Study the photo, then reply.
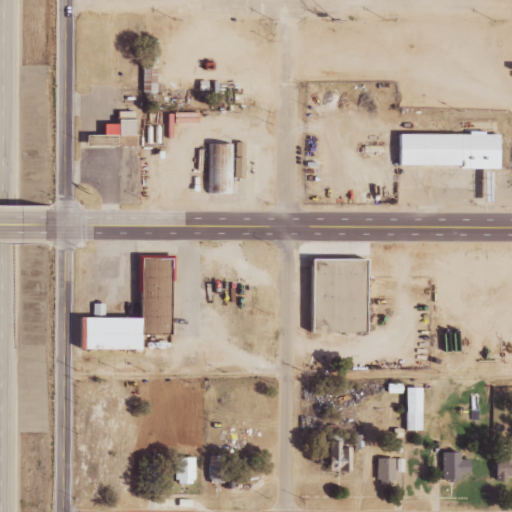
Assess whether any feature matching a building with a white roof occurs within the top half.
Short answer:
Yes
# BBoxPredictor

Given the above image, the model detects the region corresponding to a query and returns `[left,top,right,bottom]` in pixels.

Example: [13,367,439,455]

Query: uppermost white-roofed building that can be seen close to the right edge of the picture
[399,131,502,169]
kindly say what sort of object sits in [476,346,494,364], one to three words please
work vehicle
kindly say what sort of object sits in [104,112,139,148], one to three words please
building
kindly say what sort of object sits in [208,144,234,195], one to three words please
shed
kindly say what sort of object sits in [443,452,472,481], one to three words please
house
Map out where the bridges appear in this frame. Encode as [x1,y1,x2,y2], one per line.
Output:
[0,206,46,244]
